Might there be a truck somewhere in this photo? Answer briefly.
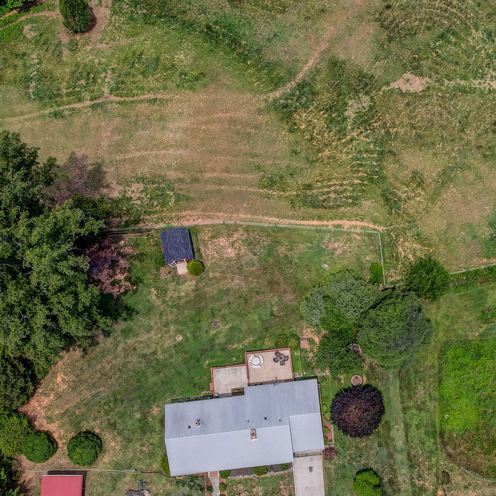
No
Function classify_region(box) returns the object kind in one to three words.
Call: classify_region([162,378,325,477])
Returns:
house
